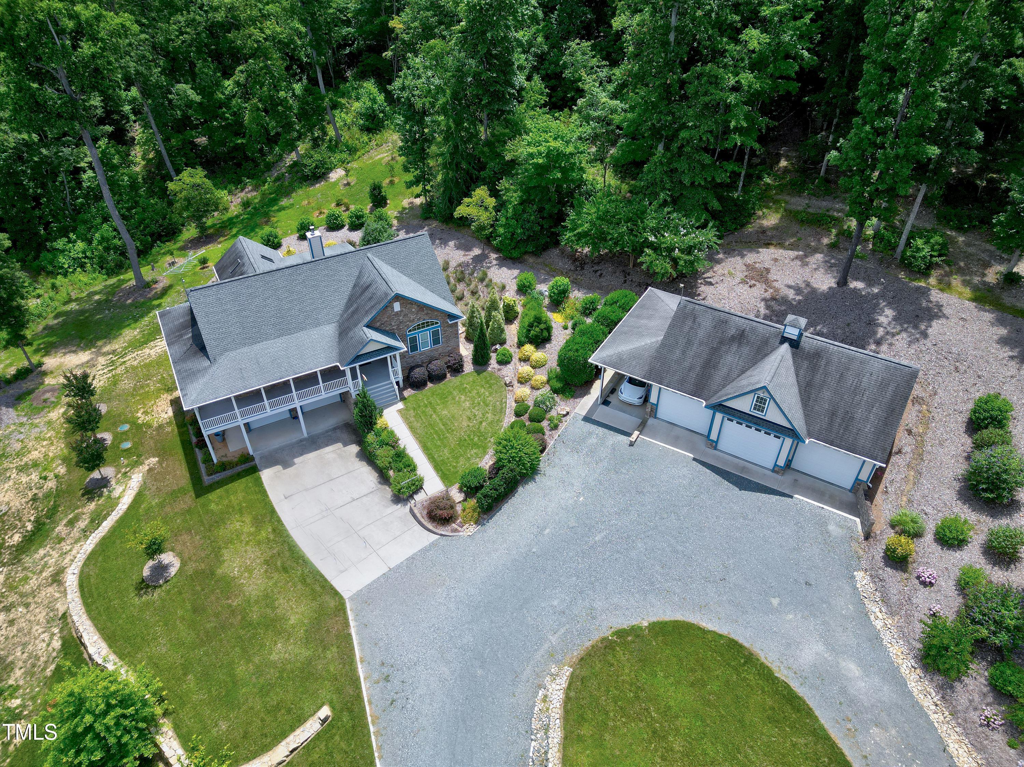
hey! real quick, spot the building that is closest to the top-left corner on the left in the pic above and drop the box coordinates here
[155,222,468,461]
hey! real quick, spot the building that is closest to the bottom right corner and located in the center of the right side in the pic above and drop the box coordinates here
[585,288,923,494]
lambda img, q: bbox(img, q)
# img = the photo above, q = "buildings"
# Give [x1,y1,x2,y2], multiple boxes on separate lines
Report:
[155,222,468,461]
[585,288,923,494]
